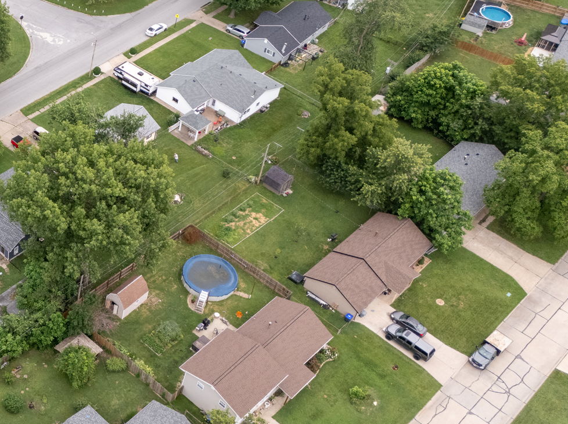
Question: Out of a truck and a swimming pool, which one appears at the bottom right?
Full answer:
You can see a truck at the bottom right.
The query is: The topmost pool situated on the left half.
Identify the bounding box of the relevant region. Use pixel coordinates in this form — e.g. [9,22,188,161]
[181,254,239,304]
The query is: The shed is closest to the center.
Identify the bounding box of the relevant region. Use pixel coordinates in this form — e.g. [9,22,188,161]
[261,168,294,199]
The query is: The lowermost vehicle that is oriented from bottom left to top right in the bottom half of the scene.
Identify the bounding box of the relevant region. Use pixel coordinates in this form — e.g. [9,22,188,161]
[468,328,520,369]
